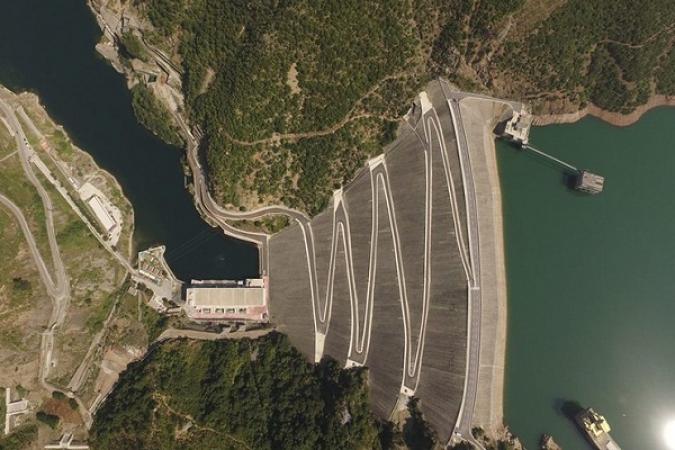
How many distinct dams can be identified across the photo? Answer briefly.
1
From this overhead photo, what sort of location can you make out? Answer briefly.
port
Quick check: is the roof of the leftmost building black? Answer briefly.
No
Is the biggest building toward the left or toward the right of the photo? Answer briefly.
left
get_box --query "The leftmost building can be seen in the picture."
[88,196,119,232]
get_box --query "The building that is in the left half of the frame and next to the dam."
[187,277,270,322]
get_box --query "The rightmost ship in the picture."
[583,405,626,450]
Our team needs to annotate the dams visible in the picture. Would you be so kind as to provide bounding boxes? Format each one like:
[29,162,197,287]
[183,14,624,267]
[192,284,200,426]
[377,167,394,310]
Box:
[268,78,514,445]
